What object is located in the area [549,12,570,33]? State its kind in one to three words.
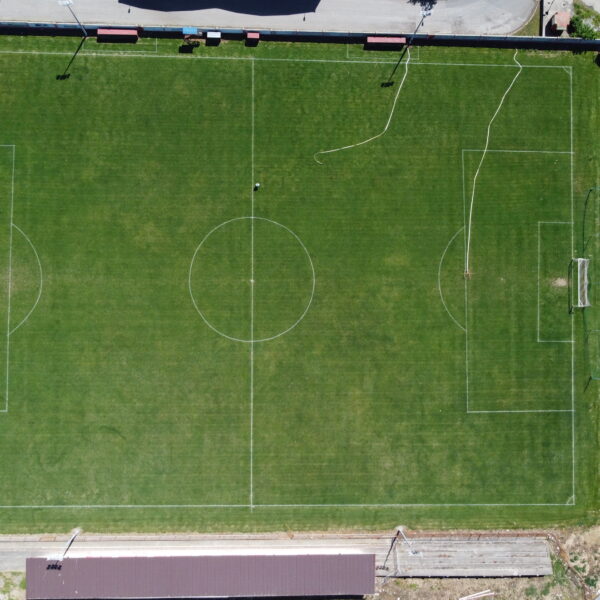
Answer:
shed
